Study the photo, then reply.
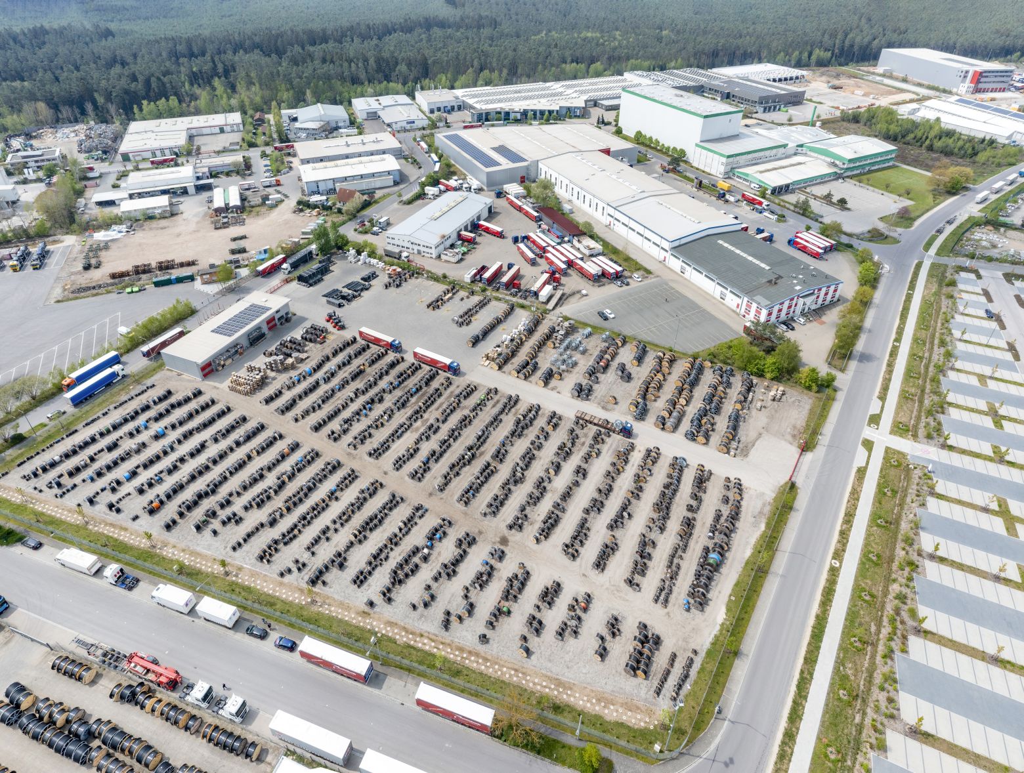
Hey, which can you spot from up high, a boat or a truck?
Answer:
truck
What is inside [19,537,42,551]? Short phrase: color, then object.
gray car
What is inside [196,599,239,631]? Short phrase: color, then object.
white trailer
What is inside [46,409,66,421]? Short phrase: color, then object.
gray vehicle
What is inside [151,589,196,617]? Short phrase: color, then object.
white truck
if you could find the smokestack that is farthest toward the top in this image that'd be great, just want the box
[808,97,820,126]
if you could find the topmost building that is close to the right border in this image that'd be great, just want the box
[876,47,1006,92]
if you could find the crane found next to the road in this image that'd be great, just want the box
[122,650,186,691]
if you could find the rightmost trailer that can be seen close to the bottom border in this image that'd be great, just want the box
[415,683,496,735]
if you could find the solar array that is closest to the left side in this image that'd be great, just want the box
[208,305,267,338]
